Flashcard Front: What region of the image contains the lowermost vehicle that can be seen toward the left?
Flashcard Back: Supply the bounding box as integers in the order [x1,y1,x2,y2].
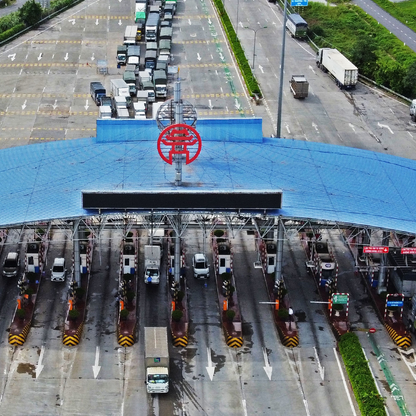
[144,326,171,392]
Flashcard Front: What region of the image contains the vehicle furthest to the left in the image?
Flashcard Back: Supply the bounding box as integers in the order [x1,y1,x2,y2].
[1,246,23,275]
